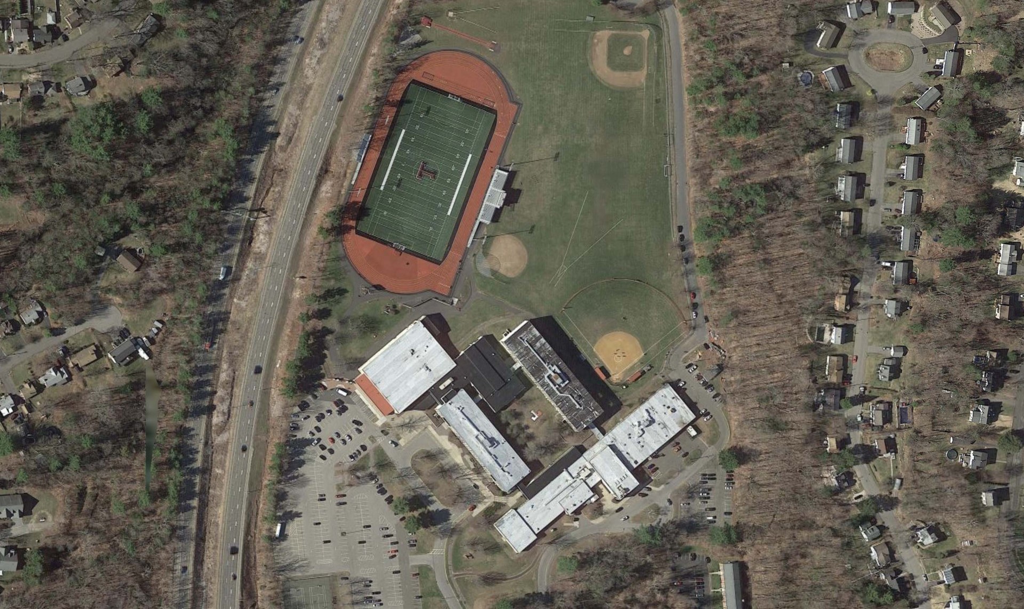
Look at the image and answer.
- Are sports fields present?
Yes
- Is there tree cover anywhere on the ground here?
Yes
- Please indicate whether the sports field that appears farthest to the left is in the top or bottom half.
top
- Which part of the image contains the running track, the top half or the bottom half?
top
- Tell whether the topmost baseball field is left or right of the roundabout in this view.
to the left of it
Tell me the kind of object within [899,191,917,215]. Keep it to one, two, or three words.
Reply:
house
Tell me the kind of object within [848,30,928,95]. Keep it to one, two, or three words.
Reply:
roundabout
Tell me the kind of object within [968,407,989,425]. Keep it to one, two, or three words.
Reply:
house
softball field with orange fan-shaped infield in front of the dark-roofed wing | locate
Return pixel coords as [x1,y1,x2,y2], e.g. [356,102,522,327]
[558,278,685,382]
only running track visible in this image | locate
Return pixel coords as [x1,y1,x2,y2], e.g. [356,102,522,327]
[336,47,524,301]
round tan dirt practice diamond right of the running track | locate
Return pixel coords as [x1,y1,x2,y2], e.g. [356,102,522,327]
[476,236,527,278]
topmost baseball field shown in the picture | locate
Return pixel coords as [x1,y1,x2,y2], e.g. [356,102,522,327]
[555,20,655,126]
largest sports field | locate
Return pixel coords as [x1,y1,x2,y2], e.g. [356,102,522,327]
[354,80,497,264]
